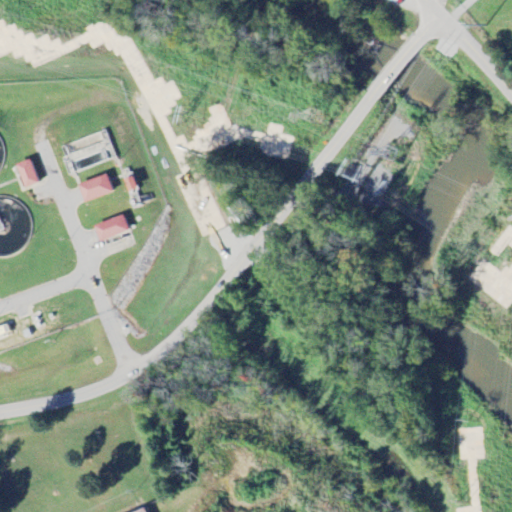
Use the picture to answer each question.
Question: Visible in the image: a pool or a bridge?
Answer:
bridge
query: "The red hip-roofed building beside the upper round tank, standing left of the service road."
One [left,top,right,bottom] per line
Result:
[14,158,39,187]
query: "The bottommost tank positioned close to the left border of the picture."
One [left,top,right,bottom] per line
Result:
[0,192,35,260]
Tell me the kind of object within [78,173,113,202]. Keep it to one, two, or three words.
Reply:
building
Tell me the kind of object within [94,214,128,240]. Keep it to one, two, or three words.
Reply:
building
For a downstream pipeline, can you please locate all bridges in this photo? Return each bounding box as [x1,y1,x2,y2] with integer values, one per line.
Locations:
[376,40,423,90]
